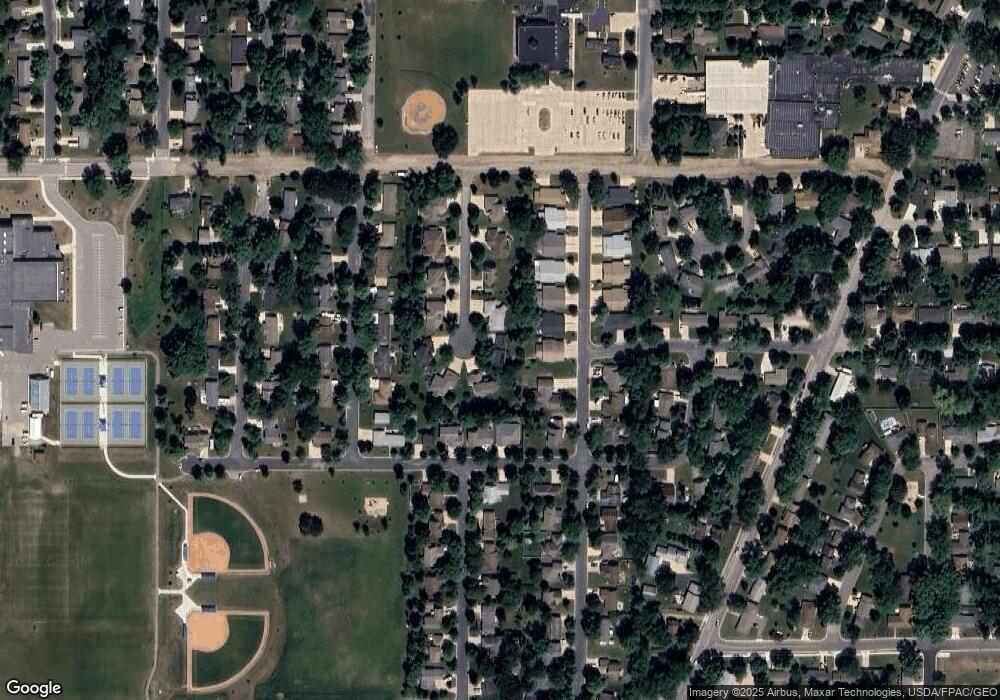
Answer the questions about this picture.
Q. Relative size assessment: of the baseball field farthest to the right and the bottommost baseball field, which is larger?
the bottommost baseball field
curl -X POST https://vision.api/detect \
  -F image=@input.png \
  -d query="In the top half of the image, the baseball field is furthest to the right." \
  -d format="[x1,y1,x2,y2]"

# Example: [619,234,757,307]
[402,90,445,134]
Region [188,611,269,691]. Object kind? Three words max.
baseball field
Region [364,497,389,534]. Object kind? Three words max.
playground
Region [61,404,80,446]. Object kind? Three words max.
tennis court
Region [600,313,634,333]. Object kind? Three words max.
house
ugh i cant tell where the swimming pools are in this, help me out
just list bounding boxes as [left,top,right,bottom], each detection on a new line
[881,417,898,432]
